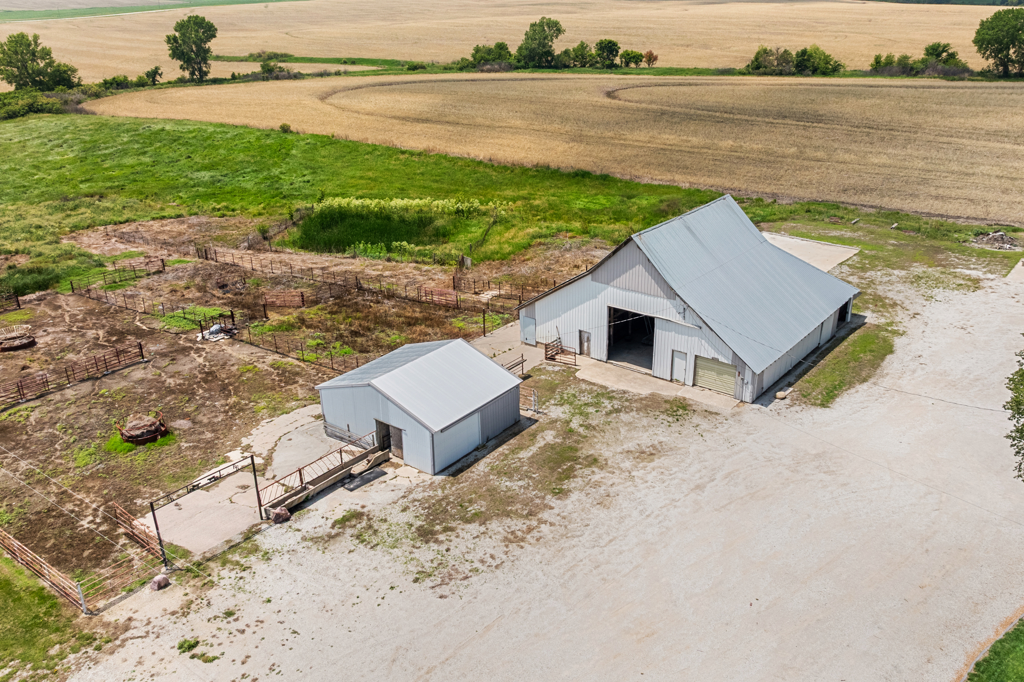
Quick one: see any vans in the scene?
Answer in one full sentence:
No, I can't see a single van in this photo.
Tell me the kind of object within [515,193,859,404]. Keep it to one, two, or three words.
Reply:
barn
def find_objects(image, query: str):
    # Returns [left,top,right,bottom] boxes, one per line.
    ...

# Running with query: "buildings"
[515,193,859,404]
[314,337,524,476]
